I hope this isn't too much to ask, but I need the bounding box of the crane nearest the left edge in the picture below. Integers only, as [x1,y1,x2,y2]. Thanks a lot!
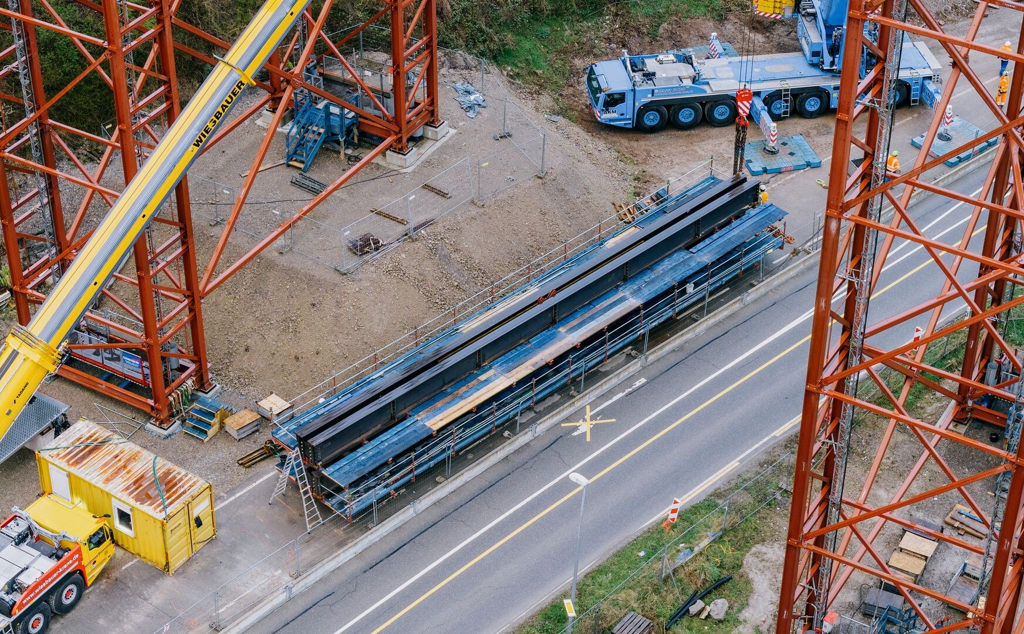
[0,0,310,634]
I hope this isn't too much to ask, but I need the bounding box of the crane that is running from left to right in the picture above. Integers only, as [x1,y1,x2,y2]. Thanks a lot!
[576,0,953,155]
